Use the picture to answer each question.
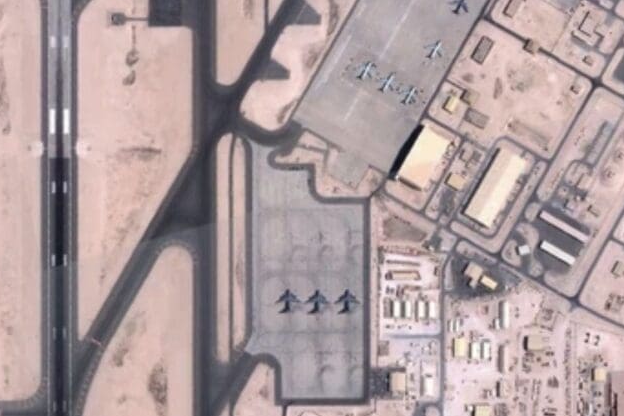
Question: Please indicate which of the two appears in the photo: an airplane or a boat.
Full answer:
The image shows an airplane.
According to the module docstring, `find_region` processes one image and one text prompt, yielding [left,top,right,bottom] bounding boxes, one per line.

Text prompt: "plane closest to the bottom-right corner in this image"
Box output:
[336,289,361,315]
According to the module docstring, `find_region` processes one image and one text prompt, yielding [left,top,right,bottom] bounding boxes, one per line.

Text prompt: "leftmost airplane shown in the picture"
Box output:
[277,289,301,315]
